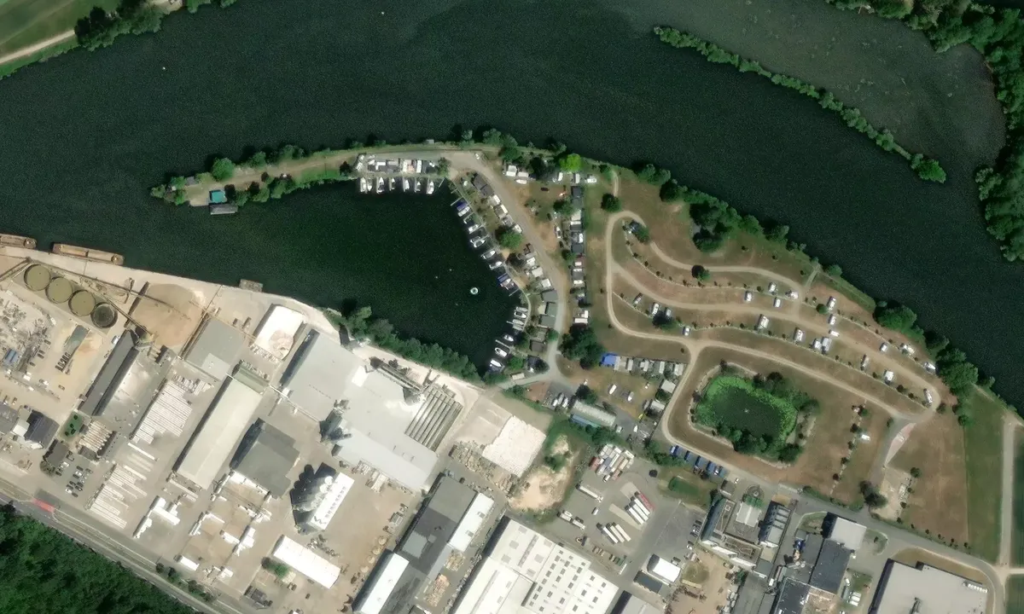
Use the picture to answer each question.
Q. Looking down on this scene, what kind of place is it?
port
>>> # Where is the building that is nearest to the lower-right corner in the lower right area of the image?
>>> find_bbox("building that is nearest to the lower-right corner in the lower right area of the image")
[876,561,988,614]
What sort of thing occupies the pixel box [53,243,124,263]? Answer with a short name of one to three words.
ship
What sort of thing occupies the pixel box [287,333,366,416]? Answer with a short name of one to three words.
building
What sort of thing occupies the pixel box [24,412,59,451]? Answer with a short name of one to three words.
house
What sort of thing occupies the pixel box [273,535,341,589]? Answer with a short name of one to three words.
shed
